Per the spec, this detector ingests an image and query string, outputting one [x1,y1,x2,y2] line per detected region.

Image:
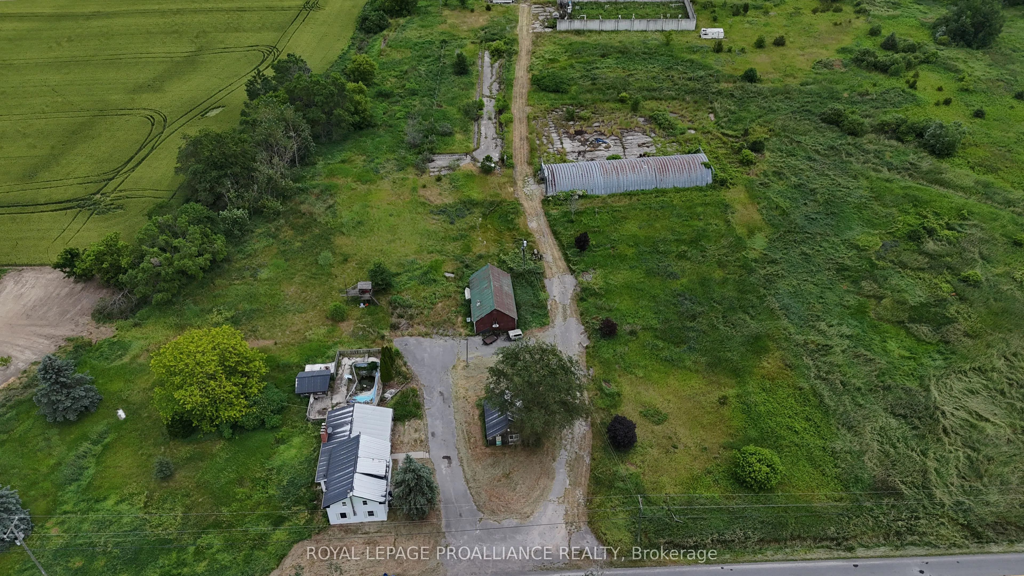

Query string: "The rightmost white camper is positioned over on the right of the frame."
[699,26,726,38]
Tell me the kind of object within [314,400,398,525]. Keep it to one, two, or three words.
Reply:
house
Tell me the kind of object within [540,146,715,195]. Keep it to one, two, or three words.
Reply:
shed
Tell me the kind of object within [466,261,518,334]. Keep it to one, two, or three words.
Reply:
barn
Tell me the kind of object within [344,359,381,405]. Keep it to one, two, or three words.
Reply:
swimming pool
